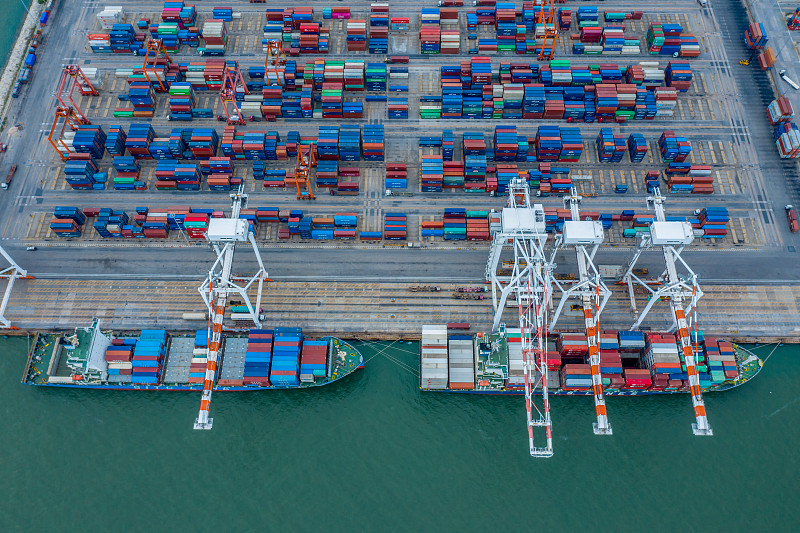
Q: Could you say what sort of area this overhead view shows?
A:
port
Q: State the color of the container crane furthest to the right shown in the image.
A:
white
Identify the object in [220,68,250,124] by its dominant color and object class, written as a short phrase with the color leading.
red container crane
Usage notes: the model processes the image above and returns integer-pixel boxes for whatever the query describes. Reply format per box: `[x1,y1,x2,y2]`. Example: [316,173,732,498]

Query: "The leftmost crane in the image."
[0,247,33,328]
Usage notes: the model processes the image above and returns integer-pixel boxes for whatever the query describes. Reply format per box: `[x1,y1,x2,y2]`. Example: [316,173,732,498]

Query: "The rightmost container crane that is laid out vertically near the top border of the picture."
[537,6,560,60]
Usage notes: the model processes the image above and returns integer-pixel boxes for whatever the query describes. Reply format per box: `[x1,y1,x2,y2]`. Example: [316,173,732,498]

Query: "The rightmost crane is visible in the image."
[614,186,714,432]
